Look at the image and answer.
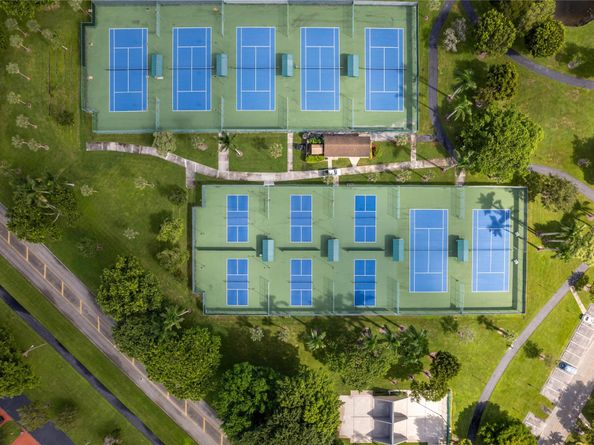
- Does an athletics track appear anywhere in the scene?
No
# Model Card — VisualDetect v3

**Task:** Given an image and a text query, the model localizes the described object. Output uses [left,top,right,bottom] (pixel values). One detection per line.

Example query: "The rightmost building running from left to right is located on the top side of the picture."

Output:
[324,136,372,160]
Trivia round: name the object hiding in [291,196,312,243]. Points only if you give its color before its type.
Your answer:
blue sports court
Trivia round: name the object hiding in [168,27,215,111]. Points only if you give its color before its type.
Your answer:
blue tennis court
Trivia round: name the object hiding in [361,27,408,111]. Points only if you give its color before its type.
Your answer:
blue tennis court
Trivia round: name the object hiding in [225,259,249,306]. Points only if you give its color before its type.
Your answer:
blue sports court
